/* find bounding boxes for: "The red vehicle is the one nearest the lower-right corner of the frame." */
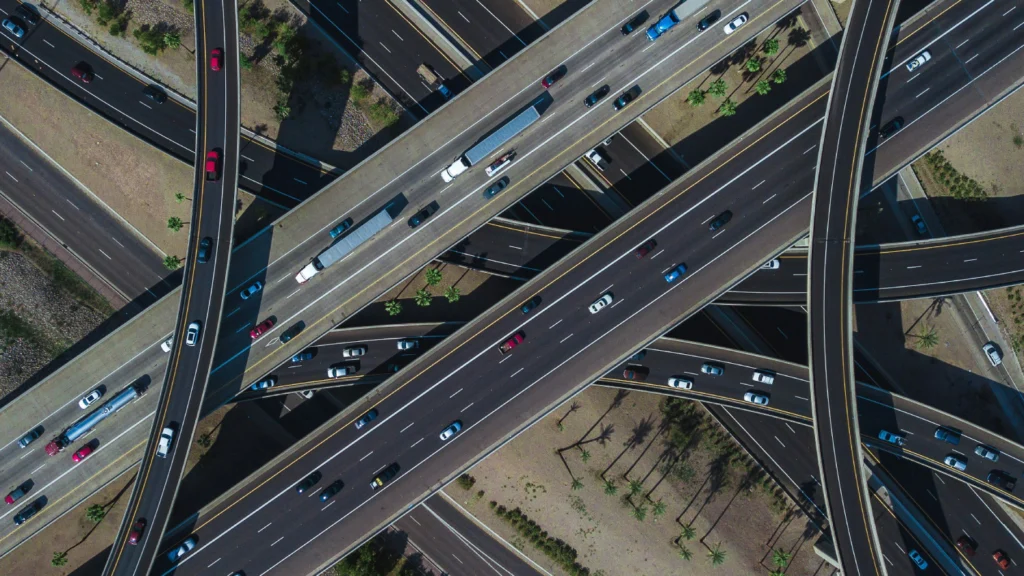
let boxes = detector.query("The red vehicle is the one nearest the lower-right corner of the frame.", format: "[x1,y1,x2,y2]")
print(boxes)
[991,550,1011,571]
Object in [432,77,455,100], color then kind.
blue truck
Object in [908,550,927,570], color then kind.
blue car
